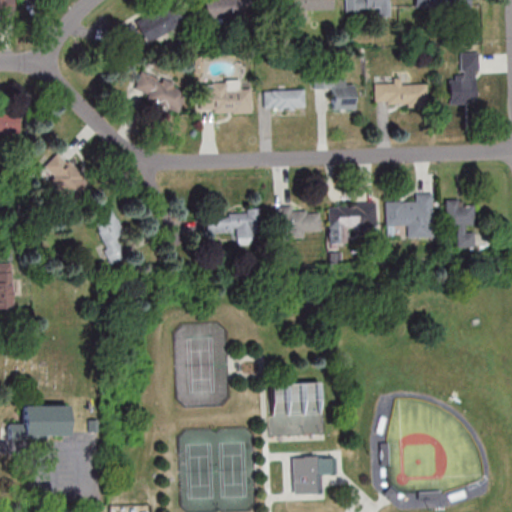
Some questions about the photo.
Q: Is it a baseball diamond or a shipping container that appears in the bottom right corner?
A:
baseball diamond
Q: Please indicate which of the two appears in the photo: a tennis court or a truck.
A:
tennis court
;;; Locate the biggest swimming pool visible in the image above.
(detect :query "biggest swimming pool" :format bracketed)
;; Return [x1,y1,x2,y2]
[208,60,236,77]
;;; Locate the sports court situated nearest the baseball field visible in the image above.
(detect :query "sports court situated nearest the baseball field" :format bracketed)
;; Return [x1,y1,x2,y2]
[268,382,324,434]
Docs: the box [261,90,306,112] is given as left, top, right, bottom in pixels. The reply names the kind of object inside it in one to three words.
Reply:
house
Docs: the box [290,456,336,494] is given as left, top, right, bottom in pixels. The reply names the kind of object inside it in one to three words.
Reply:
building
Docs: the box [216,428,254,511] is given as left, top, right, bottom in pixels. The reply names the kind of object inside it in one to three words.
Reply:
tennis court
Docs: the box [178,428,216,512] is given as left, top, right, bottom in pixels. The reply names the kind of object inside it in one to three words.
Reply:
tennis court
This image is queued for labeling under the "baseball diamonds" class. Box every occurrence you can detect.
[388,398,482,492]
